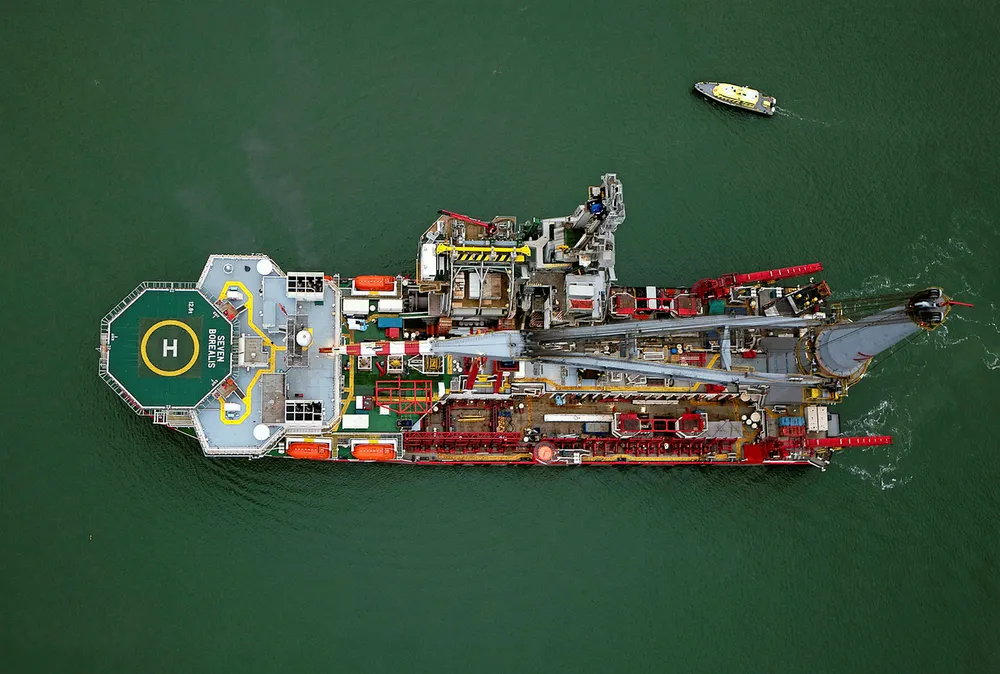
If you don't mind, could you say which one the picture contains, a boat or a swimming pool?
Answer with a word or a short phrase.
boat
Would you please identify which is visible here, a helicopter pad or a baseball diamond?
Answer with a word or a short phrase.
helicopter pad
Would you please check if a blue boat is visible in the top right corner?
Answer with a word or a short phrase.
No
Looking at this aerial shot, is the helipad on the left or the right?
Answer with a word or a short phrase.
left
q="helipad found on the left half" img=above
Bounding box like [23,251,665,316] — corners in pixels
[96,282,249,427]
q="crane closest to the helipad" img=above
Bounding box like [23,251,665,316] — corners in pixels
[341,285,974,392]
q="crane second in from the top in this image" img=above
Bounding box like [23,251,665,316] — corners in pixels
[690,263,823,306]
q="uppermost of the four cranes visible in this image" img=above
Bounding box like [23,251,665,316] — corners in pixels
[438,209,500,236]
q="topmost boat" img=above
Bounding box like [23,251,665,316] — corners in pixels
[695,79,781,119]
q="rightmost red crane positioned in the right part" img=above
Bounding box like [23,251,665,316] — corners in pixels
[759,432,892,462]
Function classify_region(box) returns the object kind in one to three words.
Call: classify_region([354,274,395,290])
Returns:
boat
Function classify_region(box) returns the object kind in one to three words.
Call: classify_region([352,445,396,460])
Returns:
boat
